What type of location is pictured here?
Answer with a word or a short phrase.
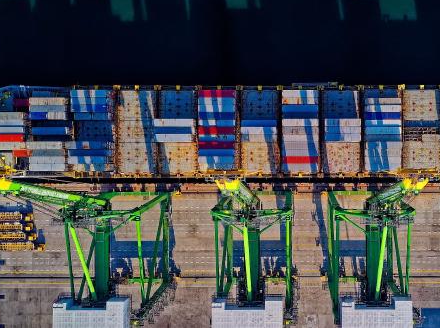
port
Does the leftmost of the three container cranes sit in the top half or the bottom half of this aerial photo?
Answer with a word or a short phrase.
bottom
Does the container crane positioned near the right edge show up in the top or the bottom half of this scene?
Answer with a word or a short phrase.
bottom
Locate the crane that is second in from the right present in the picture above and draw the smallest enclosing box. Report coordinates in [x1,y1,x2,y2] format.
[196,166,302,328]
